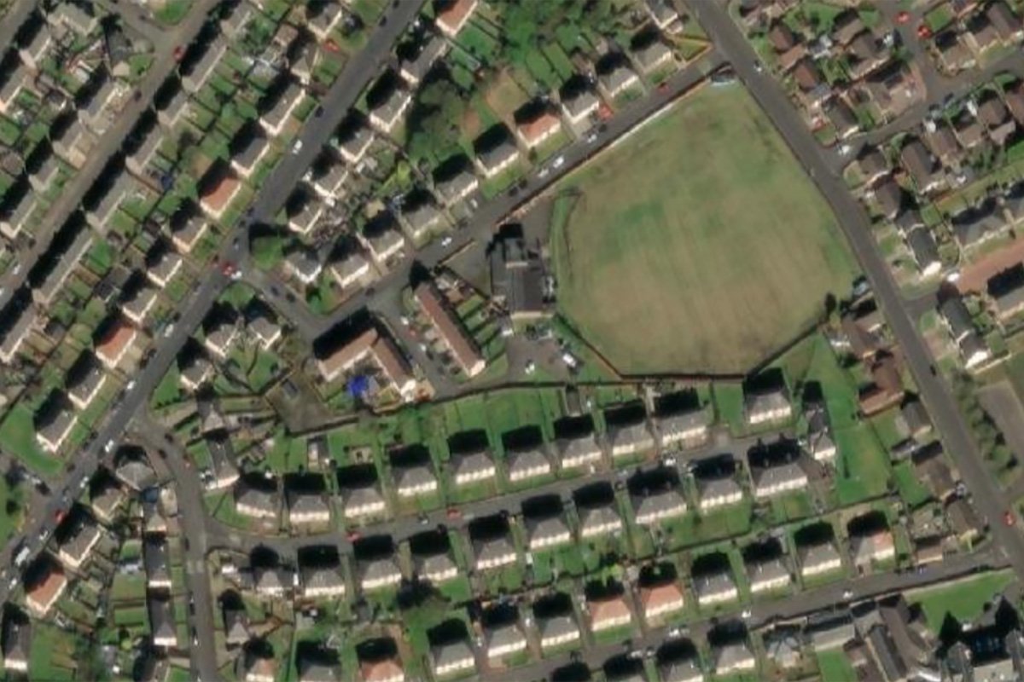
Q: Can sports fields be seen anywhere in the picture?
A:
Yes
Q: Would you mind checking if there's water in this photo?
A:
No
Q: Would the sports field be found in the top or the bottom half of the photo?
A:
top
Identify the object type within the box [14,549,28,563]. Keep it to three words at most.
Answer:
vehicle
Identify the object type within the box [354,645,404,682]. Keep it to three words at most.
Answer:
house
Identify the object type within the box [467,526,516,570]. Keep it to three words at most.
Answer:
house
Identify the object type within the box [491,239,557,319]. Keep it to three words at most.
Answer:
building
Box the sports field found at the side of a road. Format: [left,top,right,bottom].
[567,85,856,375]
